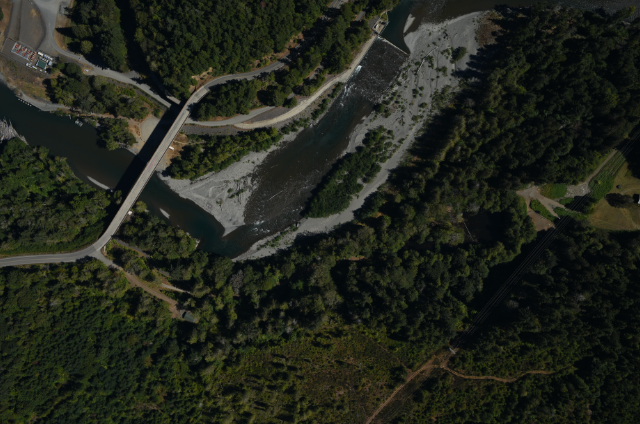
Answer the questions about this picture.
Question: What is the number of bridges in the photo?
1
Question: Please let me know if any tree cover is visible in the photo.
Yes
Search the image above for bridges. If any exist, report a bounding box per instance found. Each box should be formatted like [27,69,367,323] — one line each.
[93,84,208,250]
